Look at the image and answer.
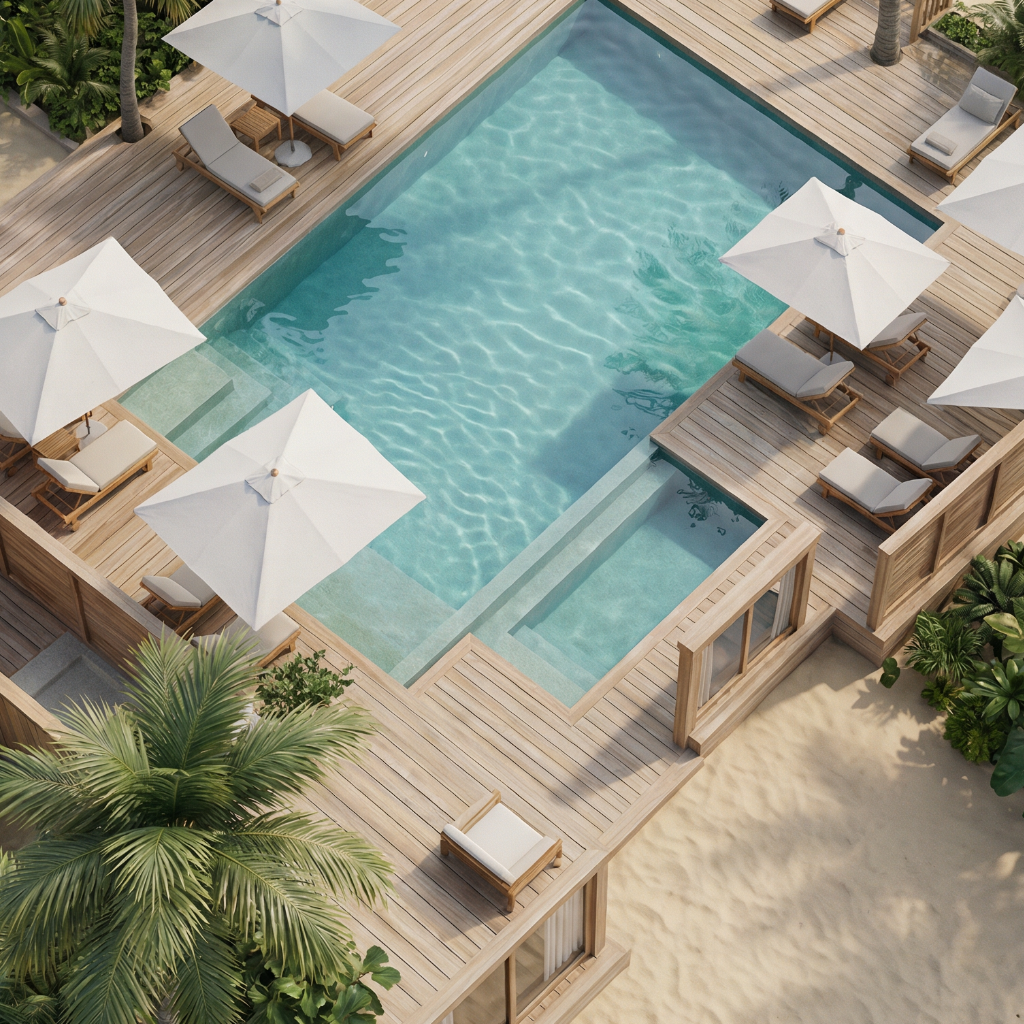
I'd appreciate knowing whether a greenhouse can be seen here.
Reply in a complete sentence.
No, the scene contains no greenhouse.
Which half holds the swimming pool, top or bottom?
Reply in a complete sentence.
The top half of the photo is where the swimming pool is.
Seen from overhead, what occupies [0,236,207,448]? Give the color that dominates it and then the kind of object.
white umbrella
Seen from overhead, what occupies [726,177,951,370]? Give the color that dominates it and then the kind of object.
white umbrella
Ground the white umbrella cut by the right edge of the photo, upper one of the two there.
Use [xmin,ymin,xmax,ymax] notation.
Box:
[931,124,1024,266]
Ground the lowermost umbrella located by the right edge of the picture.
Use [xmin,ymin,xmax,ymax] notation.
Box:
[926,297,1024,445]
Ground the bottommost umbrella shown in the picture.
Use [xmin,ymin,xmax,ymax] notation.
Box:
[136,389,427,626]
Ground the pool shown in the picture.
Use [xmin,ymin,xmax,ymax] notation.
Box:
[113,0,942,524]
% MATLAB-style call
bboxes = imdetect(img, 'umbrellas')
[926,297,1024,445]
[726,177,951,370]
[164,0,399,169]
[136,389,427,626]
[931,124,1024,266]
[0,236,207,448]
